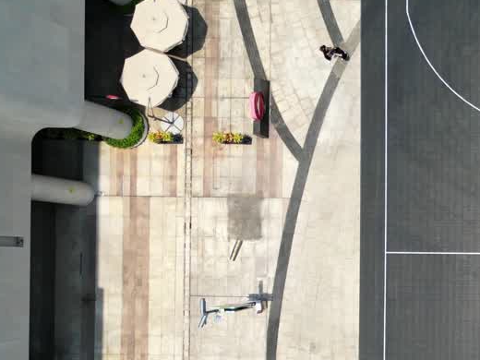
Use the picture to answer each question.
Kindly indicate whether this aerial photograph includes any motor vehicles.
No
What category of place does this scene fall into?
sports ground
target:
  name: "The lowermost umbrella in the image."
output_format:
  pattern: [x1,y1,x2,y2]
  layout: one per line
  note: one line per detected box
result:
[119,48,183,134]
